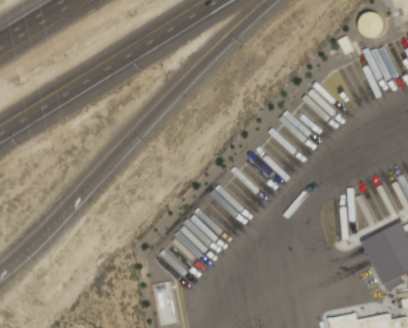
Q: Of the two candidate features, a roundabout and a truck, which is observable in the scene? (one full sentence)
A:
The one in the frame is a truck.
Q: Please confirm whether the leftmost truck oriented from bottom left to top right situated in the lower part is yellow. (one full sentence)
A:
No, the color of the leftmost truck oriented from bottom left to top right situated in the lower part is white.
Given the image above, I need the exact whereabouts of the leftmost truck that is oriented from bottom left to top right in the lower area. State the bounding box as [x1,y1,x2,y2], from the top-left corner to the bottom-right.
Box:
[282,184,316,218]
